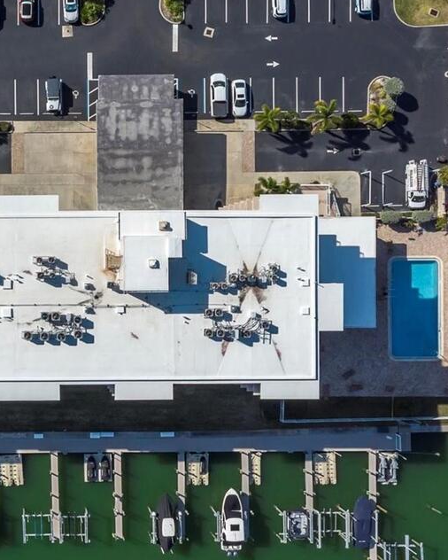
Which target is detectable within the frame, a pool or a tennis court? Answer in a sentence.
The image shows a pool.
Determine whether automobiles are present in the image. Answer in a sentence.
Yes, an automobile can be made out from above.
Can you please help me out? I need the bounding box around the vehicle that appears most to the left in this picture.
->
[19,0,35,25]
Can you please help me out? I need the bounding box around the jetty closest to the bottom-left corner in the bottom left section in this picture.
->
[49,454,63,539]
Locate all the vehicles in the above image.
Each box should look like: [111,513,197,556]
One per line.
[19,0,35,25]
[404,157,430,208]
[210,75,228,120]
[62,0,79,24]
[231,81,248,118]
[272,0,288,21]
[45,75,62,113]
[354,0,371,18]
